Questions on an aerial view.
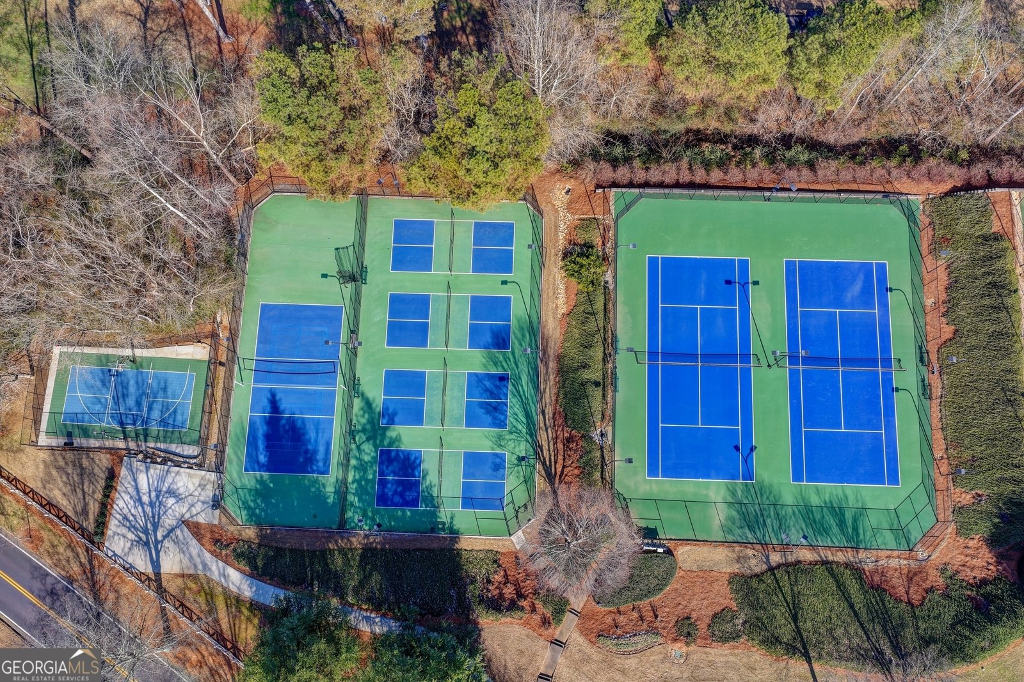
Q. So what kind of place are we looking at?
sports ground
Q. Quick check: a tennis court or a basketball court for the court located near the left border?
basketball court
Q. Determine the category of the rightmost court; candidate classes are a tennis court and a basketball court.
tennis court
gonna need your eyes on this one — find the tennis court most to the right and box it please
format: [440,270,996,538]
[765,193,936,550]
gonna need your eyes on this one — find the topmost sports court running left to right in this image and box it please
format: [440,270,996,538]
[362,198,543,286]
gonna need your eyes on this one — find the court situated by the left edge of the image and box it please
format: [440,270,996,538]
[38,345,210,456]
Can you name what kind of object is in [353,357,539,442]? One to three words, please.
sports court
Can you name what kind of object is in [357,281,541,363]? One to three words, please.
sports court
